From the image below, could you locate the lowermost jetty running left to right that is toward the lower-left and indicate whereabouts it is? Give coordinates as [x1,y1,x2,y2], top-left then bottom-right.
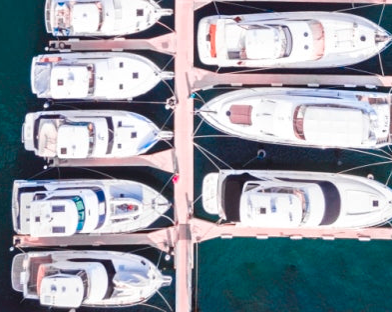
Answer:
[13,227,175,252]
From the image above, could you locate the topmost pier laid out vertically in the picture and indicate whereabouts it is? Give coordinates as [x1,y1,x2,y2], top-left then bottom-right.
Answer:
[174,2,194,269]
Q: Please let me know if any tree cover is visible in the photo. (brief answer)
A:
No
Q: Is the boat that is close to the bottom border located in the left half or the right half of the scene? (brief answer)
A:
left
